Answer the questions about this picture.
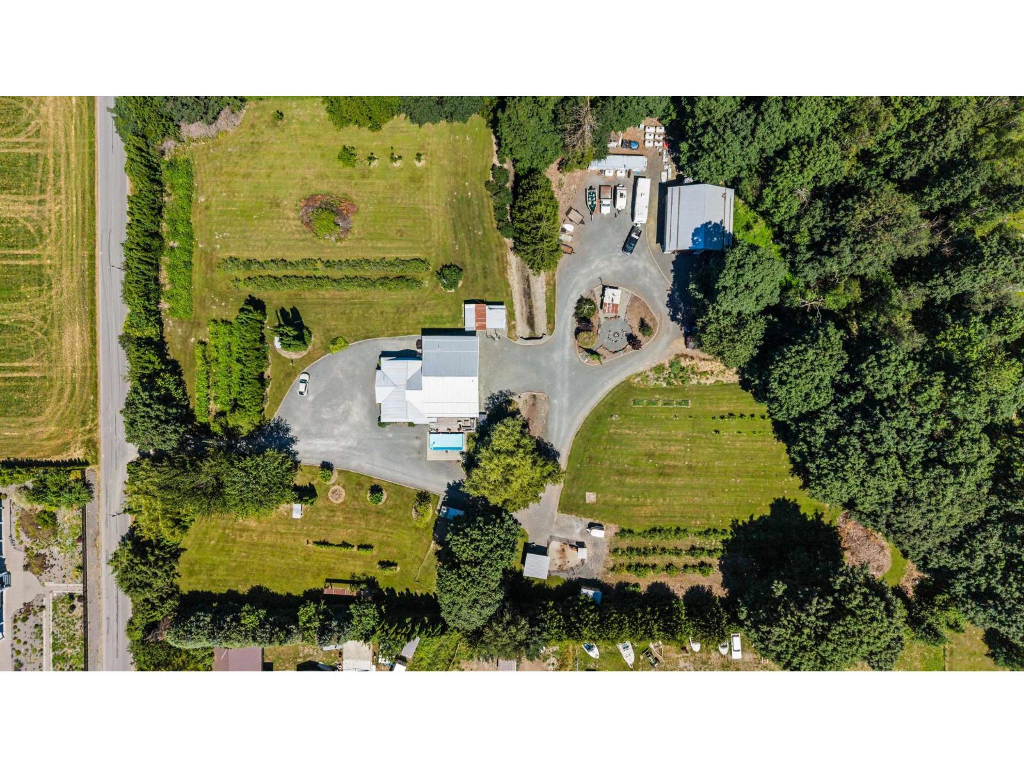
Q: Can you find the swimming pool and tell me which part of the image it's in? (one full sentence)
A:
The swimming pool sits in the center section of the image.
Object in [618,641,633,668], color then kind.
white boat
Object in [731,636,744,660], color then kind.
white vehicle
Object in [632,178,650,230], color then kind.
white trailer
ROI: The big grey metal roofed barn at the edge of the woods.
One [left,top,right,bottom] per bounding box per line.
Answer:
[664,184,733,257]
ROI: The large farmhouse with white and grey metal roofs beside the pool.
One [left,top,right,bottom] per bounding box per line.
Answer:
[374,335,479,424]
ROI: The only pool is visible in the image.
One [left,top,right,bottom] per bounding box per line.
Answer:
[427,432,466,461]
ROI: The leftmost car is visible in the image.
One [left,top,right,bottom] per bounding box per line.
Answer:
[297,372,309,396]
